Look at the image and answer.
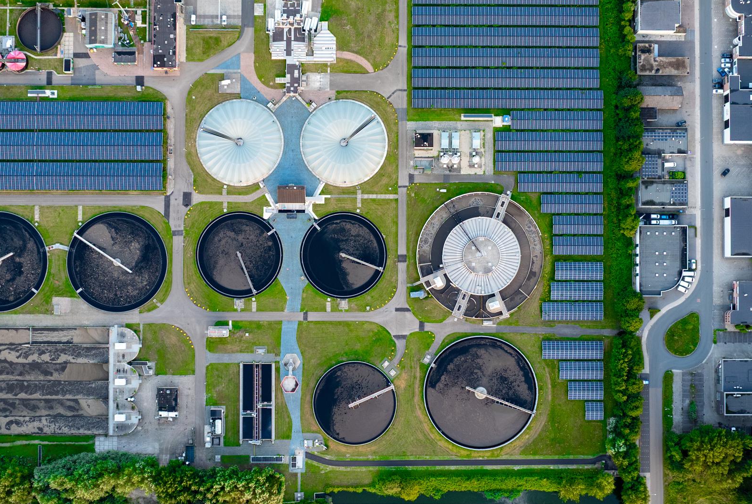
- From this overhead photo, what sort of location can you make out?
industrial area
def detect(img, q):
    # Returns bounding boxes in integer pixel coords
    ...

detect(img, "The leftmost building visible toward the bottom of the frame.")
[158,386,179,416]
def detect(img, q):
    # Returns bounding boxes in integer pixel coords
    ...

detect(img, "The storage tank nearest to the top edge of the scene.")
[16,1,65,54]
